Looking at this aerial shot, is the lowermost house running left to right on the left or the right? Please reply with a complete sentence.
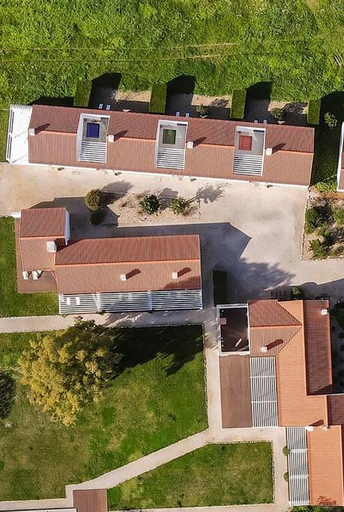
The lowermost house running left to right is on the left side of the image.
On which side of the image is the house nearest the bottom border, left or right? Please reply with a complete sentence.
The house nearest the bottom border appears in the right half of the scene.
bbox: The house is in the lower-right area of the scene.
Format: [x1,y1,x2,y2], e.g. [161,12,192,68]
[248,299,344,506]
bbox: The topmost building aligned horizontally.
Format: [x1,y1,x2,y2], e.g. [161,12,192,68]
[28,105,315,189]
